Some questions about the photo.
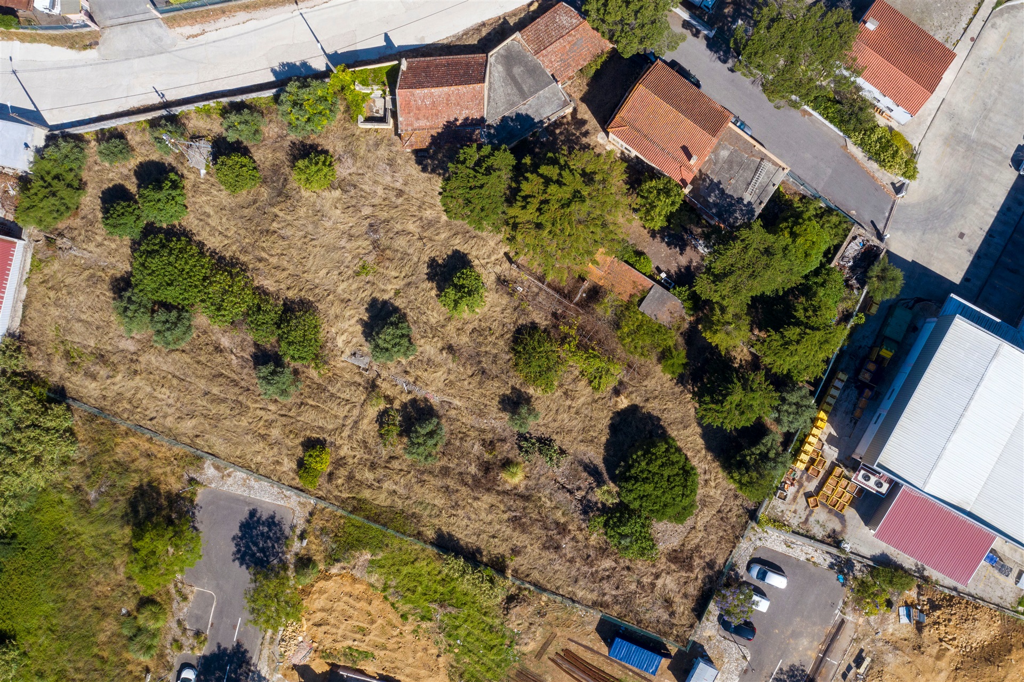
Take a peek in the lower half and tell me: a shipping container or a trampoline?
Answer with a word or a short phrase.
shipping container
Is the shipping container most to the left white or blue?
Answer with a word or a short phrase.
blue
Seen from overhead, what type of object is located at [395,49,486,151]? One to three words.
house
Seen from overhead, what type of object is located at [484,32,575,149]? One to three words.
house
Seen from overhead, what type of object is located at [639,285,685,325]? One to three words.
shed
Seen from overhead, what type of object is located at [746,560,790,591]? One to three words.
car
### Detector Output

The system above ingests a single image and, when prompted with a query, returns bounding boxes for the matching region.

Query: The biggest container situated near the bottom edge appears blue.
[605,627,664,677]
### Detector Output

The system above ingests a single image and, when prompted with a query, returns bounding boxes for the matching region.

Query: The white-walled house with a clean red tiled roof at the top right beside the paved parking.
[837,0,957,124]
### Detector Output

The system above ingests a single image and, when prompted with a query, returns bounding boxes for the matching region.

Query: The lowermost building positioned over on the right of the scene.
[679,650,719,682]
